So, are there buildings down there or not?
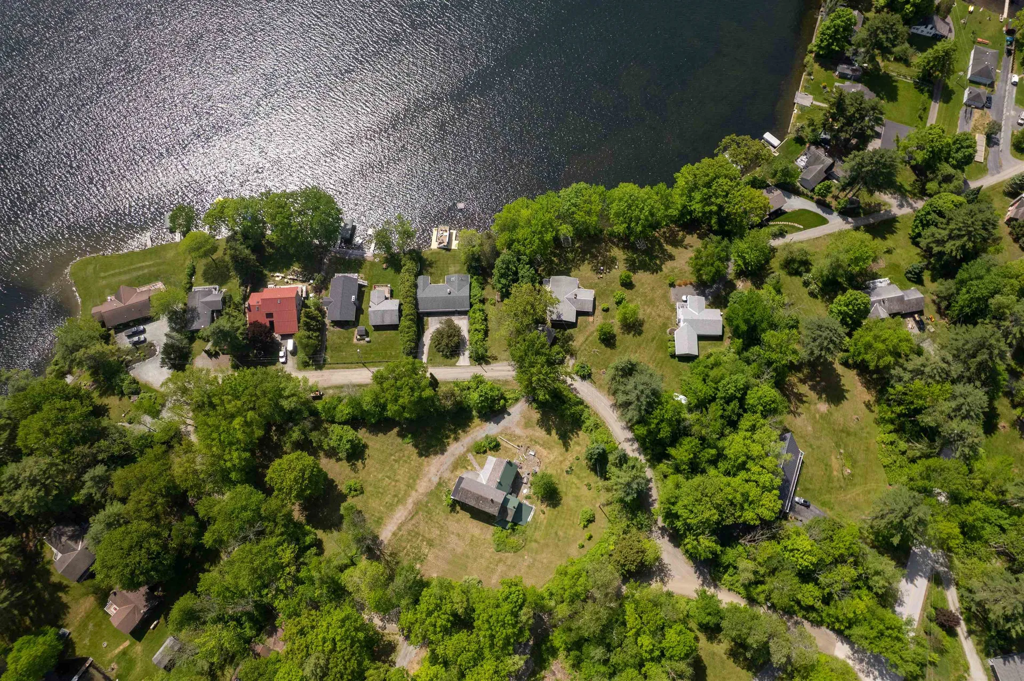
Yes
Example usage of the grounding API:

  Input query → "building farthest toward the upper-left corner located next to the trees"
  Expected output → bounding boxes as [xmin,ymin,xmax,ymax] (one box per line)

[92,281,168,329]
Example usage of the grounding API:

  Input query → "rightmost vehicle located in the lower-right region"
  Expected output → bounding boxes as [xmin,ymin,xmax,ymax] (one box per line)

[794,496,814,508]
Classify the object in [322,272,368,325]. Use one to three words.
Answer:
house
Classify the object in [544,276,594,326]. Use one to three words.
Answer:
house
